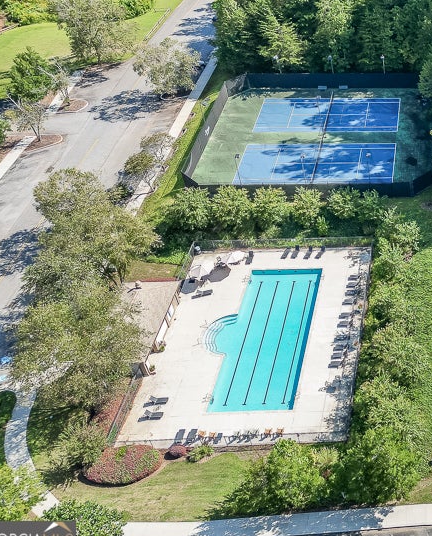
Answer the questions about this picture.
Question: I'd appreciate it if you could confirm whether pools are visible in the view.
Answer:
Yes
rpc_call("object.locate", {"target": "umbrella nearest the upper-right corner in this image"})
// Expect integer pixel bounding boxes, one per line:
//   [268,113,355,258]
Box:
[222,249,248,272]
